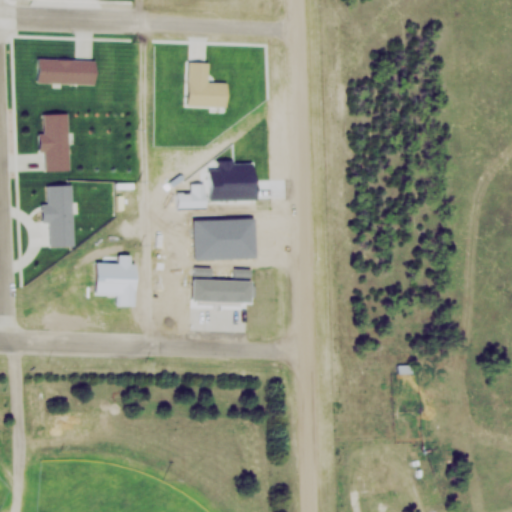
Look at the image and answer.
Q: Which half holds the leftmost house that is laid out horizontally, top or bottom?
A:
top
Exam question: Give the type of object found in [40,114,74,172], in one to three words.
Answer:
house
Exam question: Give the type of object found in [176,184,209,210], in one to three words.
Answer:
building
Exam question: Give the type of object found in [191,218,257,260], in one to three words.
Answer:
building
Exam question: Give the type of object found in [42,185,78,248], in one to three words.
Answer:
house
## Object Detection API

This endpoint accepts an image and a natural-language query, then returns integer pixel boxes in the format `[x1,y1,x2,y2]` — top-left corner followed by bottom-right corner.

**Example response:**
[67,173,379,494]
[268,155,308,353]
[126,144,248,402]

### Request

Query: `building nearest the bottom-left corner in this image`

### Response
[94,255,138,308]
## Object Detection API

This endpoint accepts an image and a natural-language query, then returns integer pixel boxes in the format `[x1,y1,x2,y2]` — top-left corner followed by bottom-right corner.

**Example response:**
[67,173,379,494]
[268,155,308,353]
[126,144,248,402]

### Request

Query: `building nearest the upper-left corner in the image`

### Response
[37,60,96,89]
